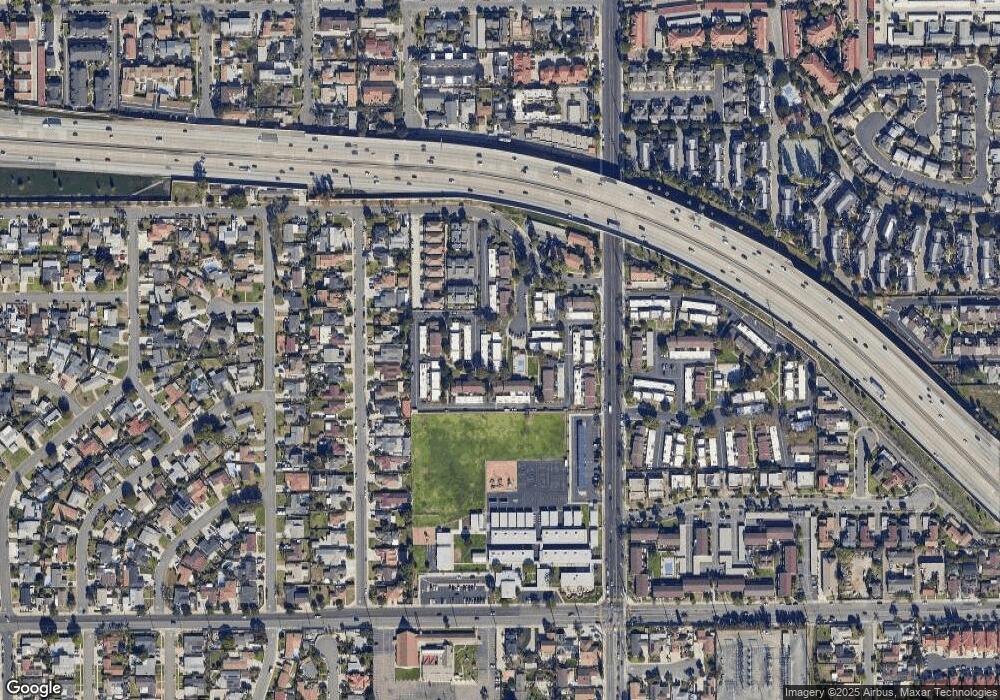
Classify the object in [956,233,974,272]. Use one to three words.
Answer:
house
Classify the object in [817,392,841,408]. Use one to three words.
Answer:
building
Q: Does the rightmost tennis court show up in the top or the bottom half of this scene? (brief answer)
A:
top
